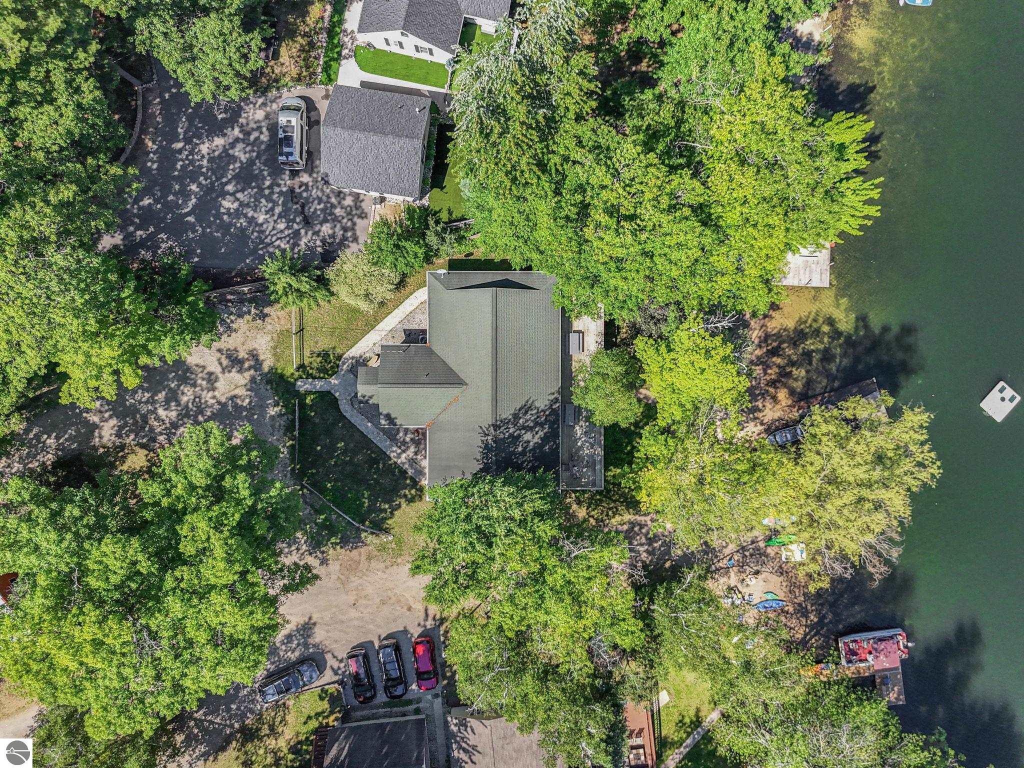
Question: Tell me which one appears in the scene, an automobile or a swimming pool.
automobile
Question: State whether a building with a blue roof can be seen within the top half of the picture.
No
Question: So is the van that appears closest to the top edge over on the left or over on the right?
left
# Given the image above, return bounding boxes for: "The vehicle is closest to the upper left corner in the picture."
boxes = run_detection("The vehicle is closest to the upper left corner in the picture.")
[278,98,311,173]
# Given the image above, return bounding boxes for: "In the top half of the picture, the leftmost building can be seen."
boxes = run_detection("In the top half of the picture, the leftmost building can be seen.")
[319,83,434,206]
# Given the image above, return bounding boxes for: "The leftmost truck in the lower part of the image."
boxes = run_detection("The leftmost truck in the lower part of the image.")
[254,654,327,706]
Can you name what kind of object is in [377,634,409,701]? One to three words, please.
car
